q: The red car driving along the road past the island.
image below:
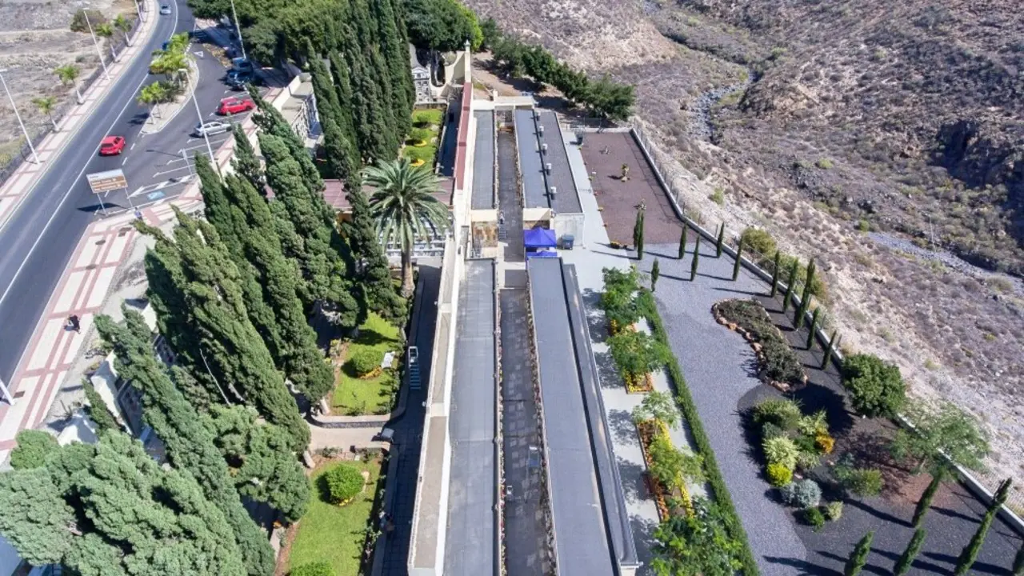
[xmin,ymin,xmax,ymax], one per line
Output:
[98,136,126,155]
